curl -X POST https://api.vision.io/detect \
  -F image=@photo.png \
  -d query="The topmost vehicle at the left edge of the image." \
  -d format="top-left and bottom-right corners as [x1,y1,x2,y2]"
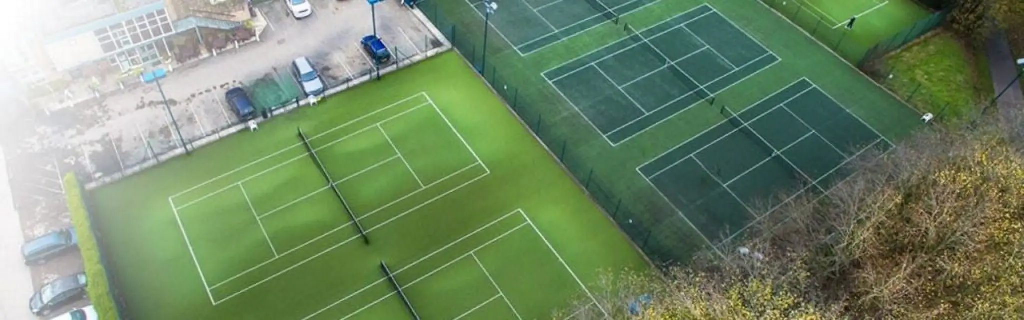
[8,226,78,271]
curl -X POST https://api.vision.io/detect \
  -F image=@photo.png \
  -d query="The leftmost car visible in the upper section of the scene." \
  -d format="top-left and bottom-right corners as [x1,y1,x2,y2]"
[223,83,256,119]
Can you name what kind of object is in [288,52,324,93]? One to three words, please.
car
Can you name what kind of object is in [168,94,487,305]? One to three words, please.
tennis court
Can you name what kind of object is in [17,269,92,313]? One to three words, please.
car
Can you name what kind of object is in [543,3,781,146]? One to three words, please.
tennis court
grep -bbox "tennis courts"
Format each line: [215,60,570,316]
[168,94,487,305]
[793,0,889,29]
[637,77,896,260]
[469,0,663,56]
[308,209,606,320]
[543,3,781,146]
